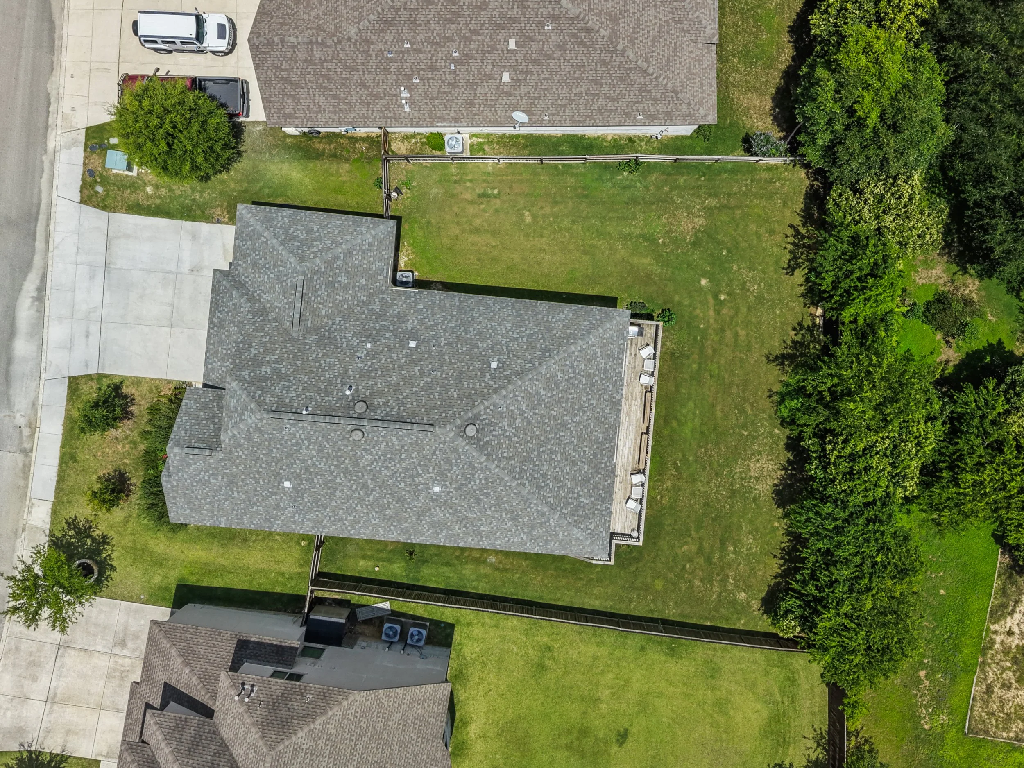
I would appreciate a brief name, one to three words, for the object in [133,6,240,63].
car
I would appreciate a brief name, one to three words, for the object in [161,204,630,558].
house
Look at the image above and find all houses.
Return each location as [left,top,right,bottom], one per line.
[161,204,630,558]
[248,0,719,138]
[118,604,453,768]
